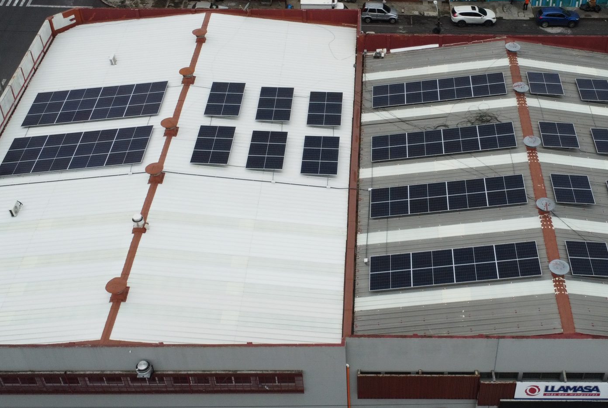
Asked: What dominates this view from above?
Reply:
buildings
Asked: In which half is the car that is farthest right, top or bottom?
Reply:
top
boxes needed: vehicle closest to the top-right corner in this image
[536,8,582,31]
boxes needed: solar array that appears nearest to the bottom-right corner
[565,239,608,277]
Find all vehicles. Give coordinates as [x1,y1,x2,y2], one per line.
[536,8,582,31]
[450,7,496,29]
[300,0,347,8]
[363,4,400,27]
